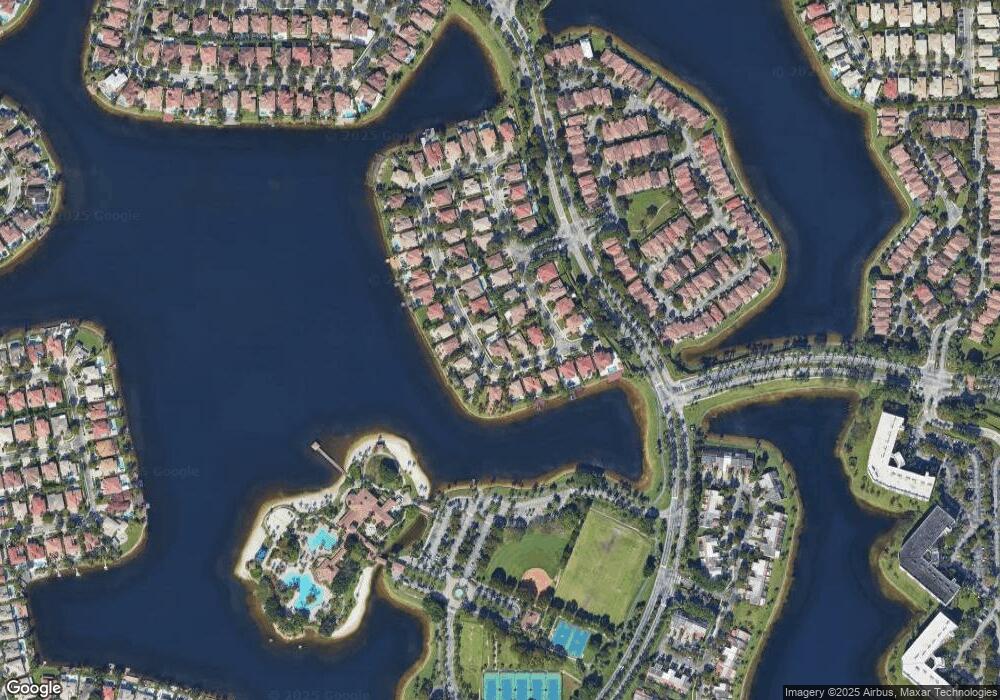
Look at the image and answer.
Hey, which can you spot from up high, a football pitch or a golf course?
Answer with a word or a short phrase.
football pitch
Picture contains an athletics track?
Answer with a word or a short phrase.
No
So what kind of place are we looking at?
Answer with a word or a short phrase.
residential area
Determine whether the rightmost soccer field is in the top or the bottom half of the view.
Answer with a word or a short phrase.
bottom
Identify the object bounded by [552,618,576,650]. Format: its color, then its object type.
blue sports court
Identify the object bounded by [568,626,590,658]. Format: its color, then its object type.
blue sports court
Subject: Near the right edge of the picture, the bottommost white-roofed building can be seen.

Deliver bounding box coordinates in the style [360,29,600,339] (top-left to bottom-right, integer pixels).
[901,612,968,700]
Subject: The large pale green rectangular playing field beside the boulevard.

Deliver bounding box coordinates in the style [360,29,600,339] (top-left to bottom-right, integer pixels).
[562,509,651,623]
